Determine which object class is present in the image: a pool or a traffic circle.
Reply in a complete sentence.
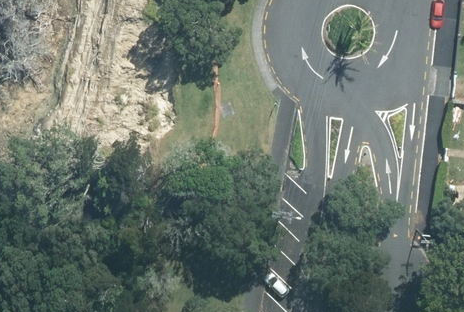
There is a traffic circle in the scene.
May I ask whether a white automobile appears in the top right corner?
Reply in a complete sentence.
No, there is no white automobile in the top right corner.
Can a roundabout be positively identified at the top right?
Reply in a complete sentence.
Yes, a roundabout can be seen at the top right.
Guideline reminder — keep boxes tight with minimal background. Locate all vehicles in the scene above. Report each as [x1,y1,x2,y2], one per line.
[266,274,291,298]
[430,0,445,29]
